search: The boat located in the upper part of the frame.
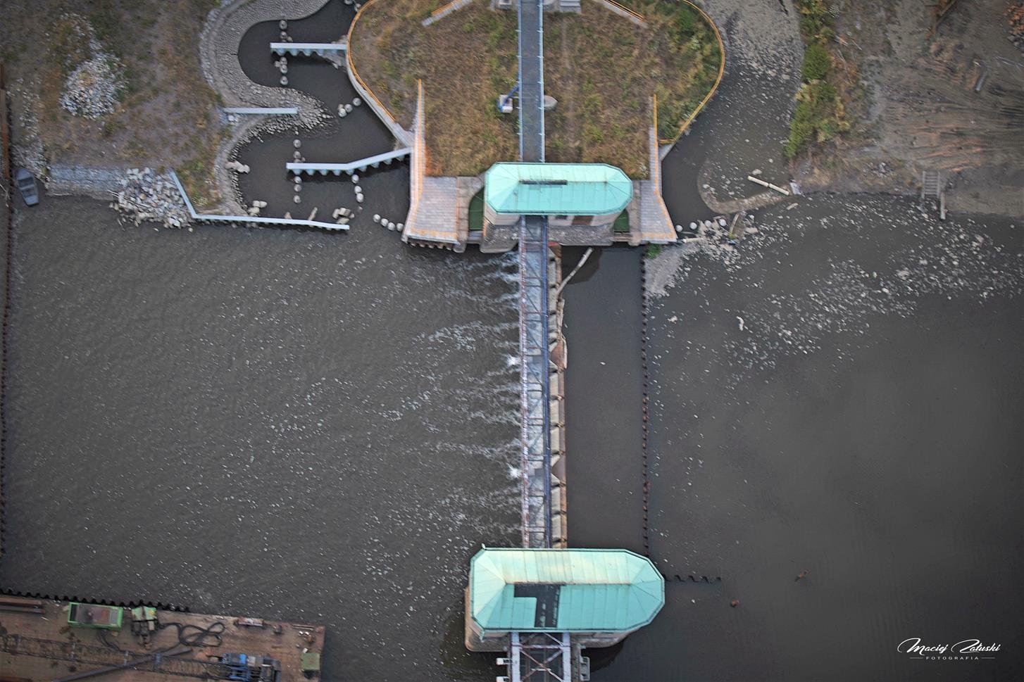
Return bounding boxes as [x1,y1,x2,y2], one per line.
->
[17,168,39,205]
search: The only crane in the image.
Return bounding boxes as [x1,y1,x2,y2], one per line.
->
[210,654,282,682]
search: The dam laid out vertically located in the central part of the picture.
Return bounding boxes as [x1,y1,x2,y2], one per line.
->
[548,245,568,550]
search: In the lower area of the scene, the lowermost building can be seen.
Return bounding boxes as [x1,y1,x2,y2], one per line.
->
[471,546,664,638]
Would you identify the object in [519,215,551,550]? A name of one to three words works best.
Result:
bridge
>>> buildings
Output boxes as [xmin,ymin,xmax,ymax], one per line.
[486,161,632,225]
[471,546,664,638]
